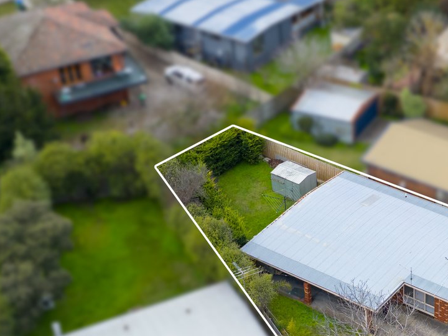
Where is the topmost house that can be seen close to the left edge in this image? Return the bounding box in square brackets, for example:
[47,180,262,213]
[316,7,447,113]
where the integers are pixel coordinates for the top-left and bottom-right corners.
[0,0,149,117]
